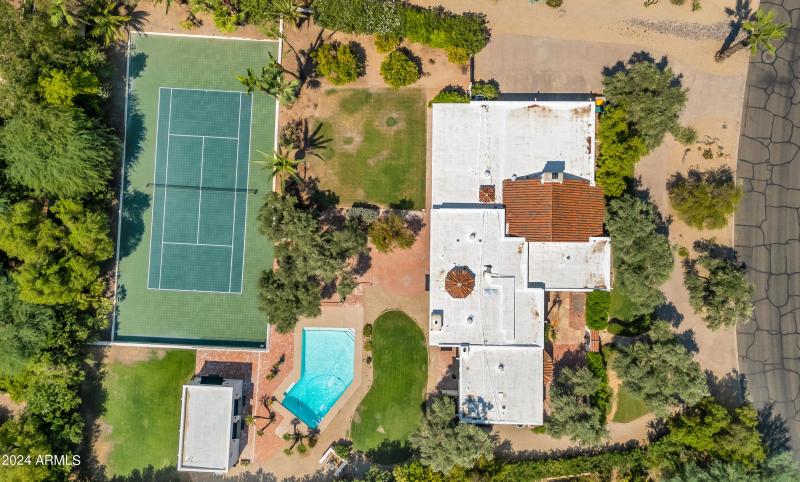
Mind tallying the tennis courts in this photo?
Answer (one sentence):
Just 1 tennis court appears in this view.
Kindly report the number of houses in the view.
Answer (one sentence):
In total, there are 2 houses in the scene.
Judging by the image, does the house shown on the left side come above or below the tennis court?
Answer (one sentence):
Looking at the scene, the house shown on the left side is located below the tennis court.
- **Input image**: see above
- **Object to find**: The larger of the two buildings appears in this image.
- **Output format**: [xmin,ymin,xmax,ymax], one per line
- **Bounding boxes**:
[426,98,612,425]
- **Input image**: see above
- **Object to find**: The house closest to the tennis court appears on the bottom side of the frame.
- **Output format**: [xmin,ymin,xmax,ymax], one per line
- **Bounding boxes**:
[177,377,242,473]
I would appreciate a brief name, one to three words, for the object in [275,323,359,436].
swimming pool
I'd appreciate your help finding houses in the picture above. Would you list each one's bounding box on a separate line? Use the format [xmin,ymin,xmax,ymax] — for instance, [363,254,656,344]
[177,377,242,473]
[426,98,612,425]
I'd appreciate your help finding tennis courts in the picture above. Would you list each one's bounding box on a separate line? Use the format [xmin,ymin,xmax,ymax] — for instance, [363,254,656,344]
[118,37,280,346]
